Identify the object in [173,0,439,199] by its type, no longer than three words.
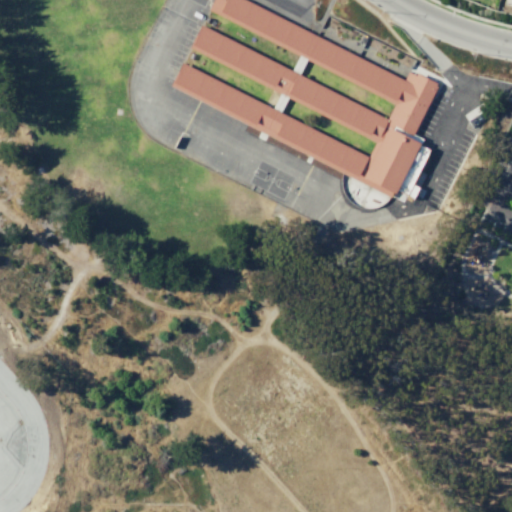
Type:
building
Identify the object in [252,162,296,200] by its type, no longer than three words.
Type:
basketball court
